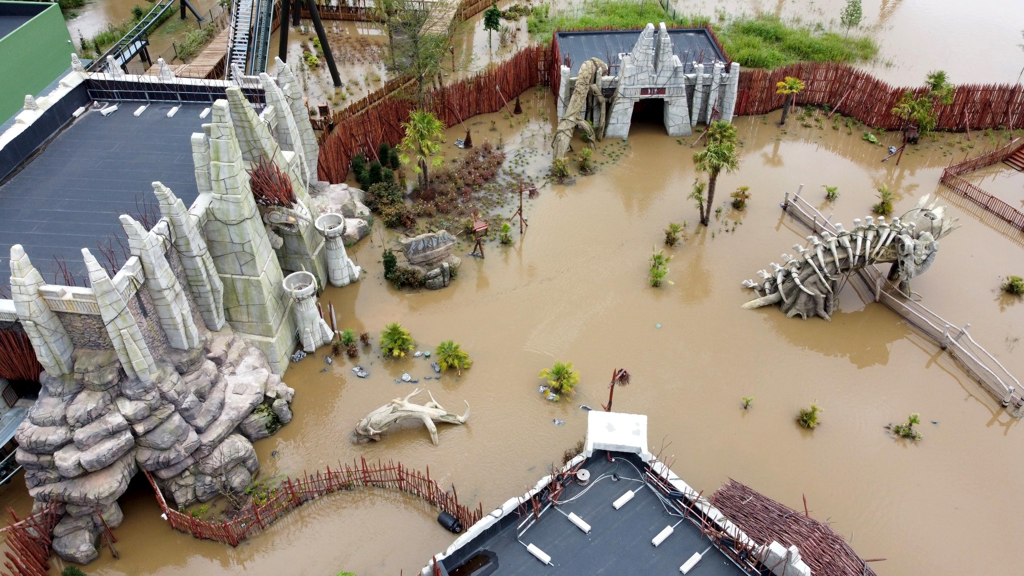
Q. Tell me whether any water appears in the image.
Yes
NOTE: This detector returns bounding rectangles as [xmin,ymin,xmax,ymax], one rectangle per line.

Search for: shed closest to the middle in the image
[471,216,491,257]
